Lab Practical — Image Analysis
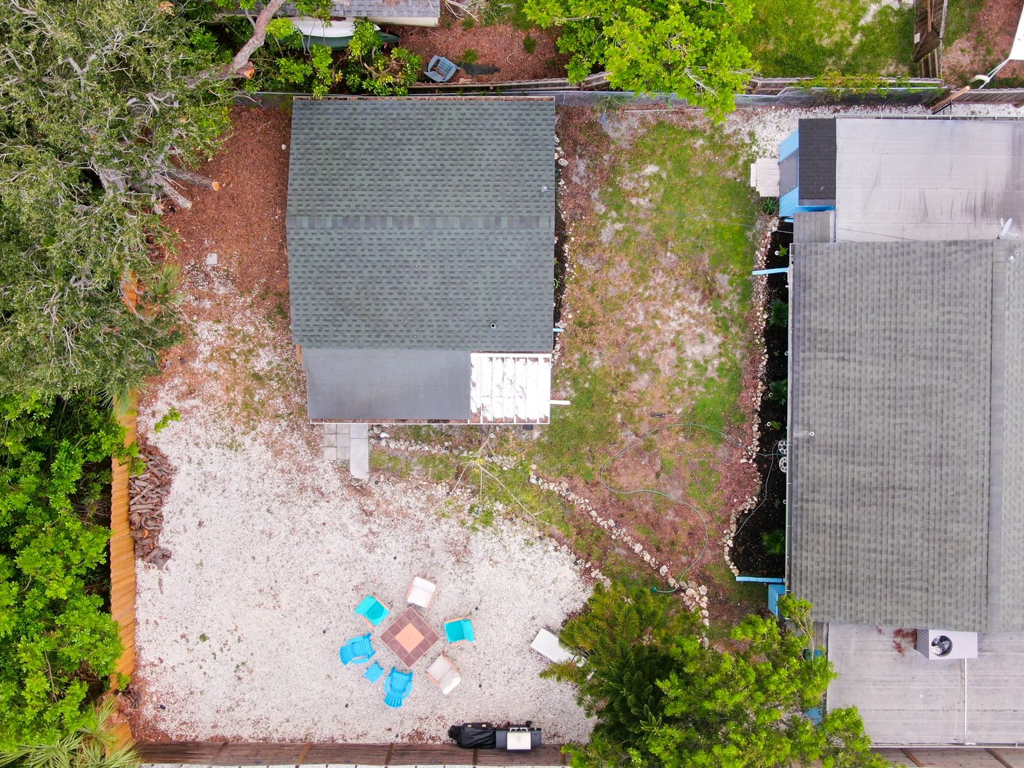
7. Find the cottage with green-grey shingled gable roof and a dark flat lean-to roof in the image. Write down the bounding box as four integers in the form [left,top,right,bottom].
[286,95,563,425]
